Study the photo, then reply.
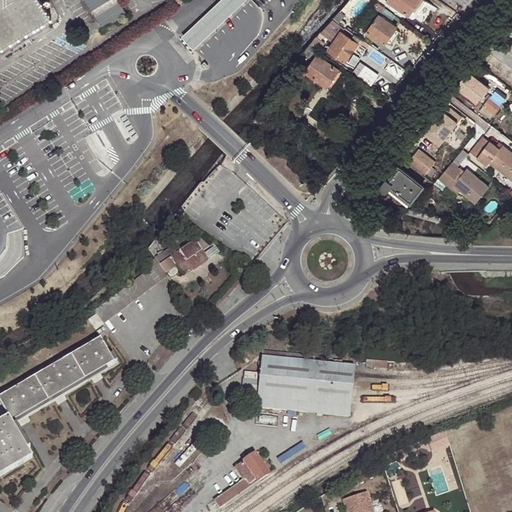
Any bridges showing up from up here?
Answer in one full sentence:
Yes, a bridge appears in the view.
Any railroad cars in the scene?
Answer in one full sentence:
Yes, I can see a railroad car in this picture.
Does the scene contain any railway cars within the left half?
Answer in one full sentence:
Yes, looking within the left half, one can make out a railway car.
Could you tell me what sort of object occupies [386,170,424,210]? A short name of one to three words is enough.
house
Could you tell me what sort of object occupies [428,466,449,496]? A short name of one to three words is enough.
swimming pool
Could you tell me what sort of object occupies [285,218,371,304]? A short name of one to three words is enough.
roundabout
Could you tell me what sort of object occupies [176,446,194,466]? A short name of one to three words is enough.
rail car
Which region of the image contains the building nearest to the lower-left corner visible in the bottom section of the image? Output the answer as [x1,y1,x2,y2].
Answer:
[0,412,34,475]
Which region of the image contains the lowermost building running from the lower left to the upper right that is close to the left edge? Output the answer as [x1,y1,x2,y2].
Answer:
[0,335,120,426]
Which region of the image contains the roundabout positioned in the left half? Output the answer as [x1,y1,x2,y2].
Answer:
[126,44,168,86]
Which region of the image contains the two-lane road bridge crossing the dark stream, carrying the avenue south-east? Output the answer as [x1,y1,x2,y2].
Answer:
[206,121,246,157]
